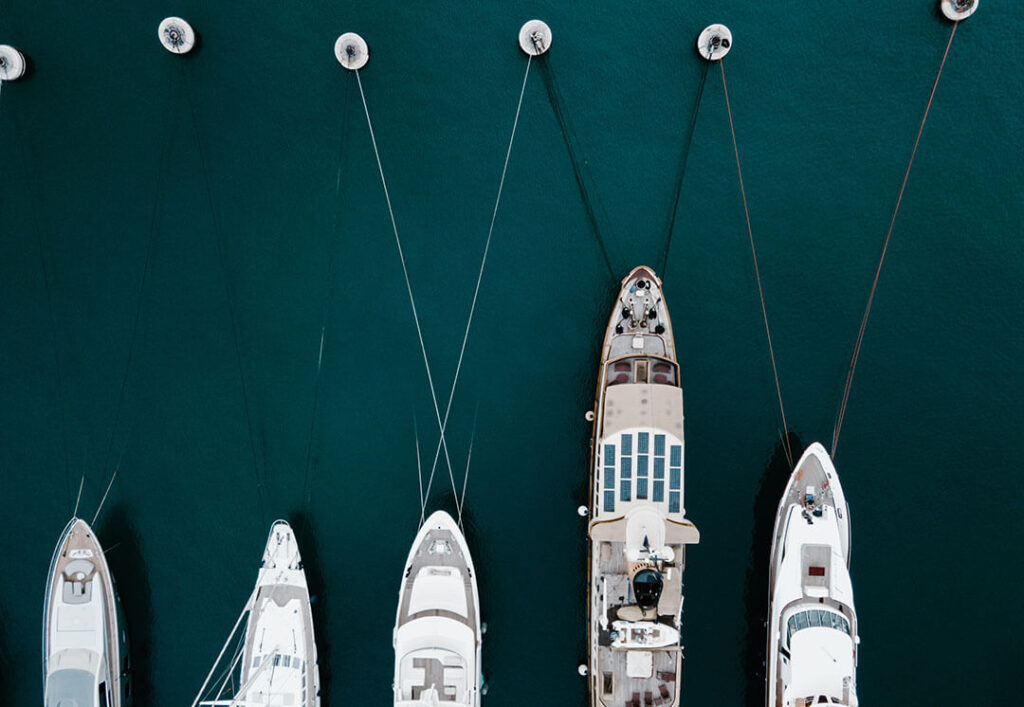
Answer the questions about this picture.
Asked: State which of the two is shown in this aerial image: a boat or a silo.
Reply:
boat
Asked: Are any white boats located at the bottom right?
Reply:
Yes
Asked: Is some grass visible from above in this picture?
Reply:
No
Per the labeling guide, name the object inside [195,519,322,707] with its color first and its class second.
white boat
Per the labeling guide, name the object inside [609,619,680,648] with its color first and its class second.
white boat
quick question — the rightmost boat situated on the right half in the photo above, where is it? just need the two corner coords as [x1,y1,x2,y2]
[762,440,863,707]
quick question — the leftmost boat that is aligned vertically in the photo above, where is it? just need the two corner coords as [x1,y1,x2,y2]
[41,516,134,707]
